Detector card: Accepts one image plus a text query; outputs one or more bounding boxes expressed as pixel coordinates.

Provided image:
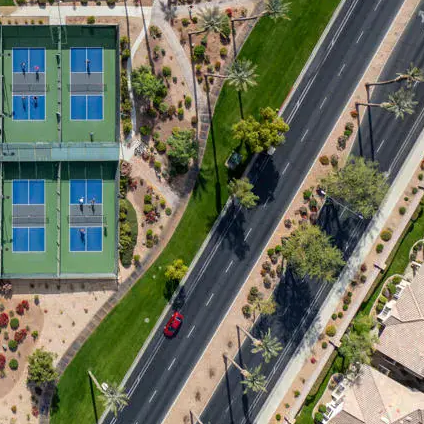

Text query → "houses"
[342,362,424,424]
[373,262,424,375]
